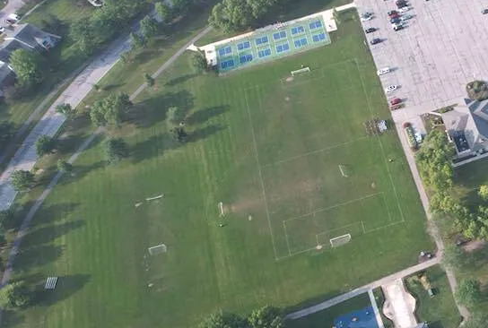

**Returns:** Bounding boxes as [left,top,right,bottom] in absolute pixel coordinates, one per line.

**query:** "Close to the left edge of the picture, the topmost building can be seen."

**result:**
[0,25,62,63]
